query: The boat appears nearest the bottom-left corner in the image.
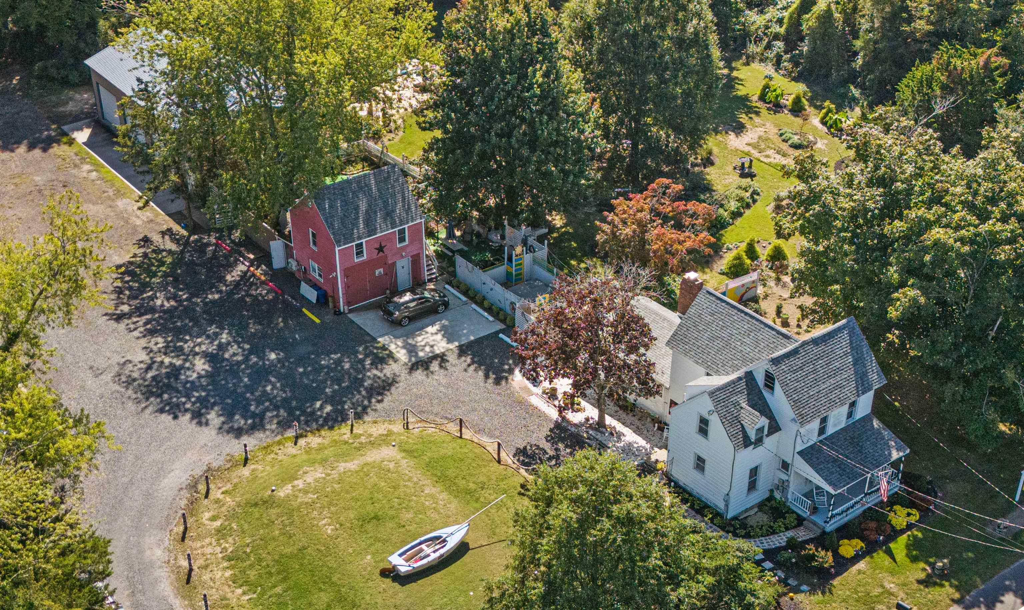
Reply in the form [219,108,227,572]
[377,494,501,576]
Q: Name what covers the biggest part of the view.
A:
trees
